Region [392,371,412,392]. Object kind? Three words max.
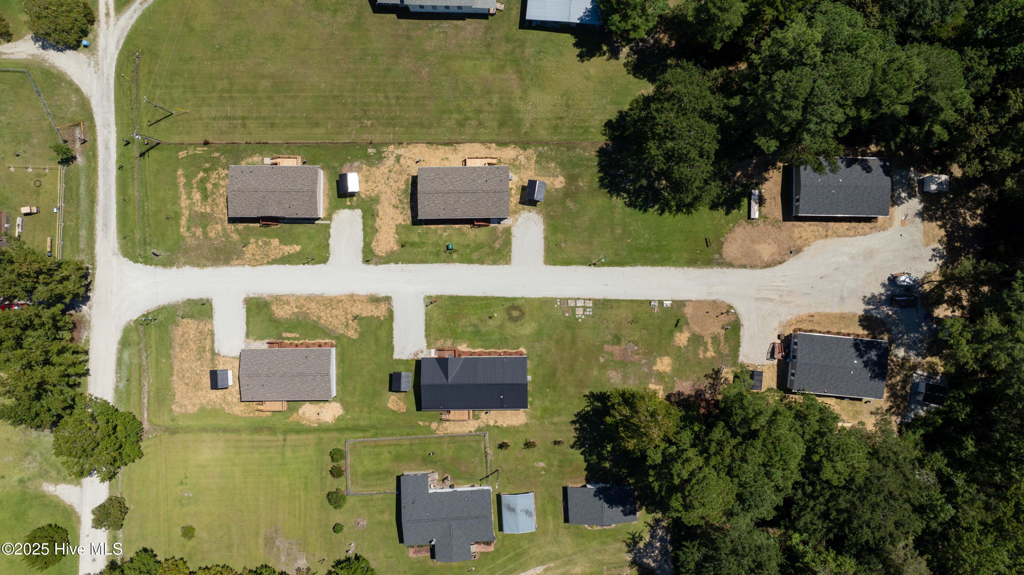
shed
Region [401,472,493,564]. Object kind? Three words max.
house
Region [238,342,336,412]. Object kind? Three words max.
house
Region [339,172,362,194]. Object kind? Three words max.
shed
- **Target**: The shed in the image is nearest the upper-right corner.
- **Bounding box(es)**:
[923,175,949,191]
